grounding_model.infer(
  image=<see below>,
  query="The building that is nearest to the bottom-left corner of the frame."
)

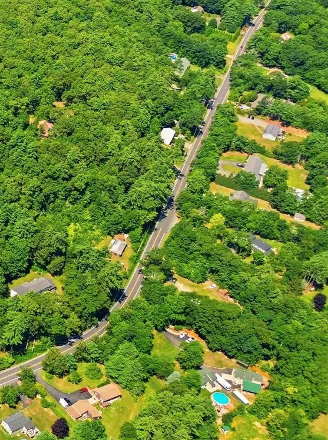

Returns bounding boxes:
[1,411,33,437]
